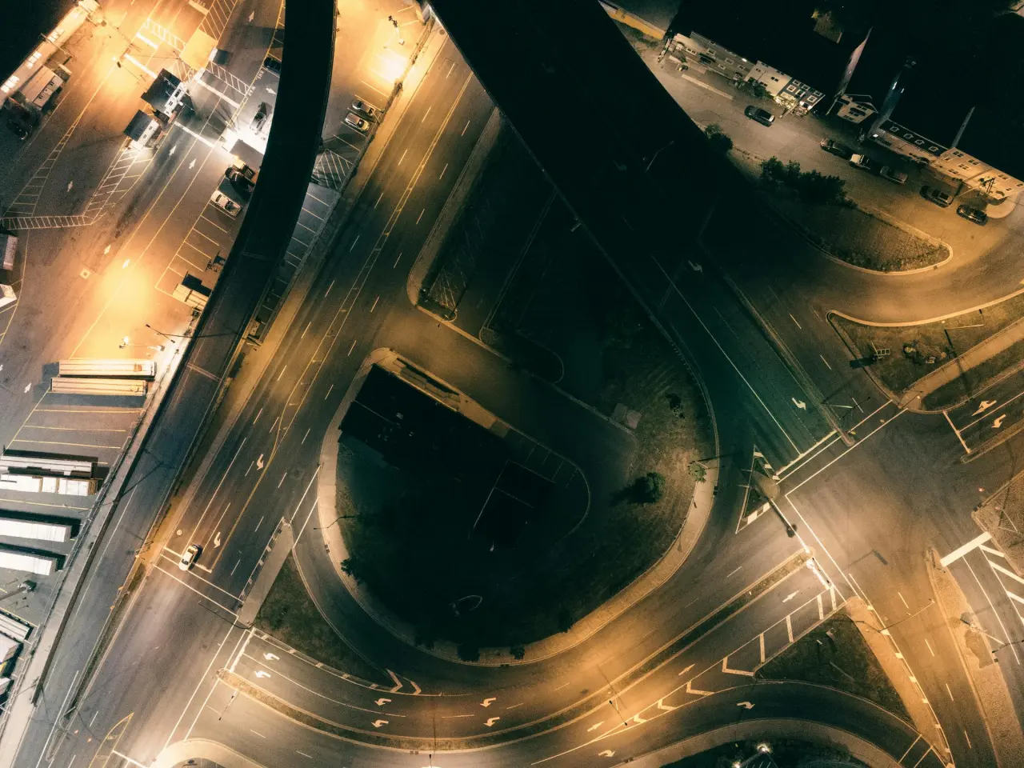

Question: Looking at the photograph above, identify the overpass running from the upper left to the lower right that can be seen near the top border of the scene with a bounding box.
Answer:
[428,0,763,303]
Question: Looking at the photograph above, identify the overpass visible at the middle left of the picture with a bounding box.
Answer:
[24,0,341,705]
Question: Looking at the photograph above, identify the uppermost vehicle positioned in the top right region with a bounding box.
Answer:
[744,106,774,127]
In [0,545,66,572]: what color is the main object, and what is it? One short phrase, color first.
white trailer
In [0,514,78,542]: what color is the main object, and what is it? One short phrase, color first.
white trailer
